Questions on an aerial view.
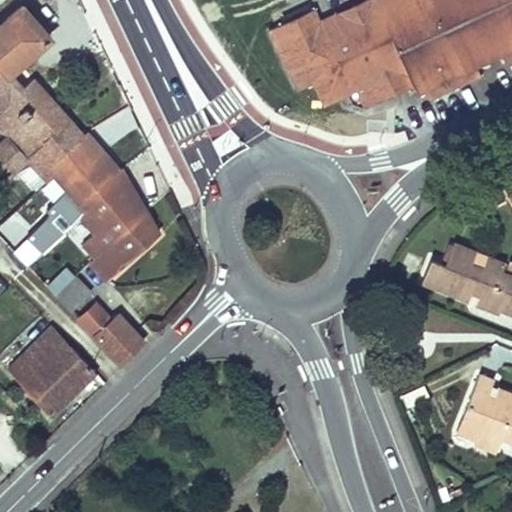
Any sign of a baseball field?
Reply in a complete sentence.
No, this view has no baseball field in it.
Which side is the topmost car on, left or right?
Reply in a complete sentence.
The topmost car sits on the left side.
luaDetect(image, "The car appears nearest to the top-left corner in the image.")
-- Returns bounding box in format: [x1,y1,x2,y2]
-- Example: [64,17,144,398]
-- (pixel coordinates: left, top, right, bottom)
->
[38,3,58,24]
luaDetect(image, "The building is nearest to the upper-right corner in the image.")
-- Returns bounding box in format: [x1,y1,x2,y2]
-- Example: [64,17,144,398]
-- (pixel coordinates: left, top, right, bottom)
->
[376,0,512,98]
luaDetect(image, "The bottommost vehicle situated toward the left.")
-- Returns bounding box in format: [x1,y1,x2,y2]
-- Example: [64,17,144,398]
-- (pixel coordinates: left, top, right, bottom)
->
[34,460,54,478]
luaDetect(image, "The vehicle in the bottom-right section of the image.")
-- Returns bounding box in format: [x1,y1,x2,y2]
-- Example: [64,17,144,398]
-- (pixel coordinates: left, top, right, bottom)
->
[384,448,399,470]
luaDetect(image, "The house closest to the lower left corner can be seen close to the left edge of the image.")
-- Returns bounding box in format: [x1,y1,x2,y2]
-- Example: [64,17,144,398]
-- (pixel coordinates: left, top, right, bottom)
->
[9,323,104,416]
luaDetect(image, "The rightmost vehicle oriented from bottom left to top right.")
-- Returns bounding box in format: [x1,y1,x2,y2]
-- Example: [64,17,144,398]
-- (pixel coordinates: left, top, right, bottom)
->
[216,306,241,324]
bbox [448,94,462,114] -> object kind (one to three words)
car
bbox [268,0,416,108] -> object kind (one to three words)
building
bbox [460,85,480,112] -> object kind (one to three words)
vehicle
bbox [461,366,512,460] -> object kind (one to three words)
house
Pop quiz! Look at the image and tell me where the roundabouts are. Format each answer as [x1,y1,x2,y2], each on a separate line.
[201,132,424,384]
